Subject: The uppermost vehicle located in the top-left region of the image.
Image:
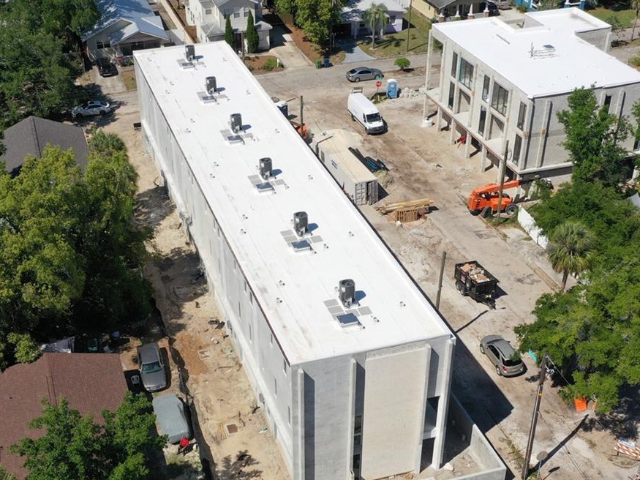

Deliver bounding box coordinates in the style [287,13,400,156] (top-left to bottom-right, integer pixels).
[96,56,117,74]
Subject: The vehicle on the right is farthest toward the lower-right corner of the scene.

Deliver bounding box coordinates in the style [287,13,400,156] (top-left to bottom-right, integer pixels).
[474,329,522,370]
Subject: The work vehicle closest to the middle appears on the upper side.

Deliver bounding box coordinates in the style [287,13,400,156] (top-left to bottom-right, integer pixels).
[305,123,326,146]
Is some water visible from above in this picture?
No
